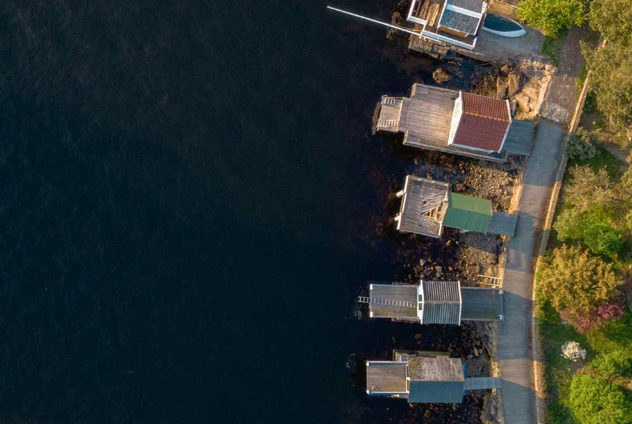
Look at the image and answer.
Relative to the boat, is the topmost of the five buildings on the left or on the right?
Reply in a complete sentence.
You can see the topmost of the five buildings positioned to the left of the boat.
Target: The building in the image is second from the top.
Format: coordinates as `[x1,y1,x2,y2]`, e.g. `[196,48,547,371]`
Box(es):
[374,83,520,163]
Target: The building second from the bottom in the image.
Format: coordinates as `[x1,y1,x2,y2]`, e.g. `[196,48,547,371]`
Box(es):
[361,279,504,326]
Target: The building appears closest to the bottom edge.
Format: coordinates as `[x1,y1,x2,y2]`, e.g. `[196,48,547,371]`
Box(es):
[361,351,465,404]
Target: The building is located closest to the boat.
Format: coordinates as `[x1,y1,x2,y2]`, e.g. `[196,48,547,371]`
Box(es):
[403,0,487,51]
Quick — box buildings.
[374,83,520,163]
[391,175,494,237]
[361,351,465,404]
[403,0,487,51]
[361,279,504,326]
